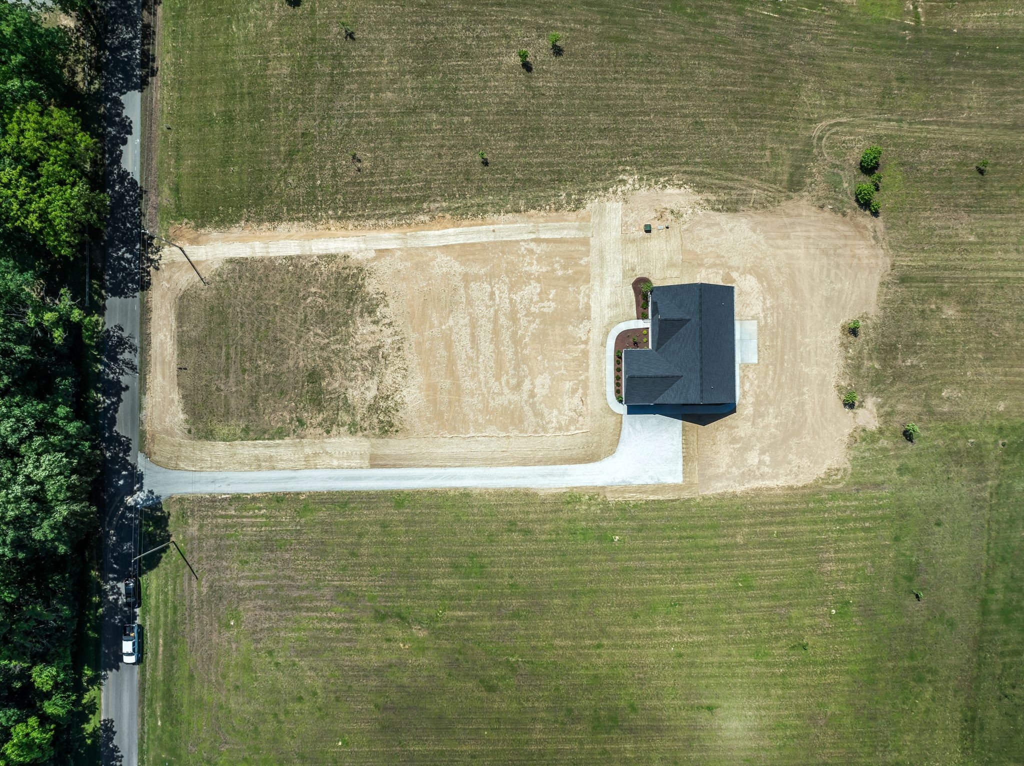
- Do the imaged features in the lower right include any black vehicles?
No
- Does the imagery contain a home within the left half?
No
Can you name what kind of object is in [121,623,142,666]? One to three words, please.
truck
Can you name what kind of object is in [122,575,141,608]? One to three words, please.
car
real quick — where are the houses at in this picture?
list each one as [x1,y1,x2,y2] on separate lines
[623,283,736,405]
